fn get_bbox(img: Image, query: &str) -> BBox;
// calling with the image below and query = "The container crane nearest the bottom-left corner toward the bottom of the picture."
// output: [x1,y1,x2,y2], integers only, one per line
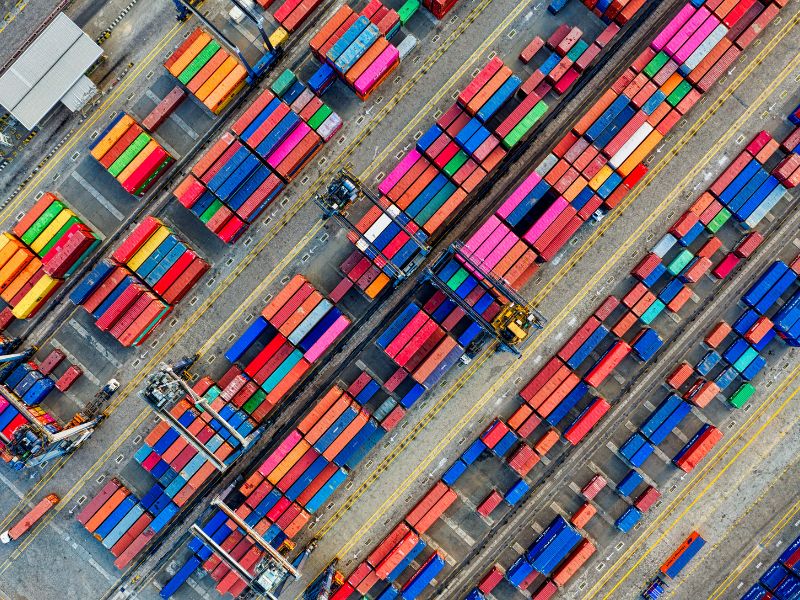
[0,341,112,476]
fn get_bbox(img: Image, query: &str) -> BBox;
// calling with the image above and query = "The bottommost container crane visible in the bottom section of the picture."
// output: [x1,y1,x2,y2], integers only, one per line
[297,550,346,600]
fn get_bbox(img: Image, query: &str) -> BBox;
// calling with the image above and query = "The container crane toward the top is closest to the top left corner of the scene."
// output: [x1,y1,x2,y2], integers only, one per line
[170,0,287,91]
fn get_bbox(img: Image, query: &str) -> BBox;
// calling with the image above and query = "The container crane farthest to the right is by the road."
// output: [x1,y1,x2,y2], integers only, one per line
[421,238,545,352]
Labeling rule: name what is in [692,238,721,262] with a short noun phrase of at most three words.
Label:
shipping container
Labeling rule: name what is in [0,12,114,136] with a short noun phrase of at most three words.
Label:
warehouse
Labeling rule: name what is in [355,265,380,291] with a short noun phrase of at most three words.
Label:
shipping container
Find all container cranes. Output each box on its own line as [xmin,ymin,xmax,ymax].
[421,238,545,352]
[138,347,277,474]
[297,550,346,600]
[170,0,287,91]
[0,341,112,476]
[316,166,435,286]
[191,466,324,600]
